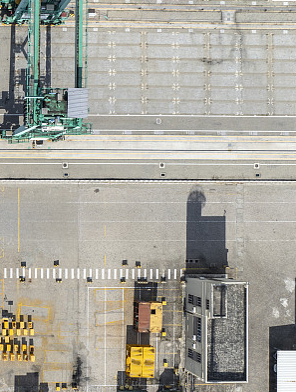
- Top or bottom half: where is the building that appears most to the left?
bottom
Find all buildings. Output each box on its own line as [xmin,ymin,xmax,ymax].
[184,279,249,386]
[269,351,296,392]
